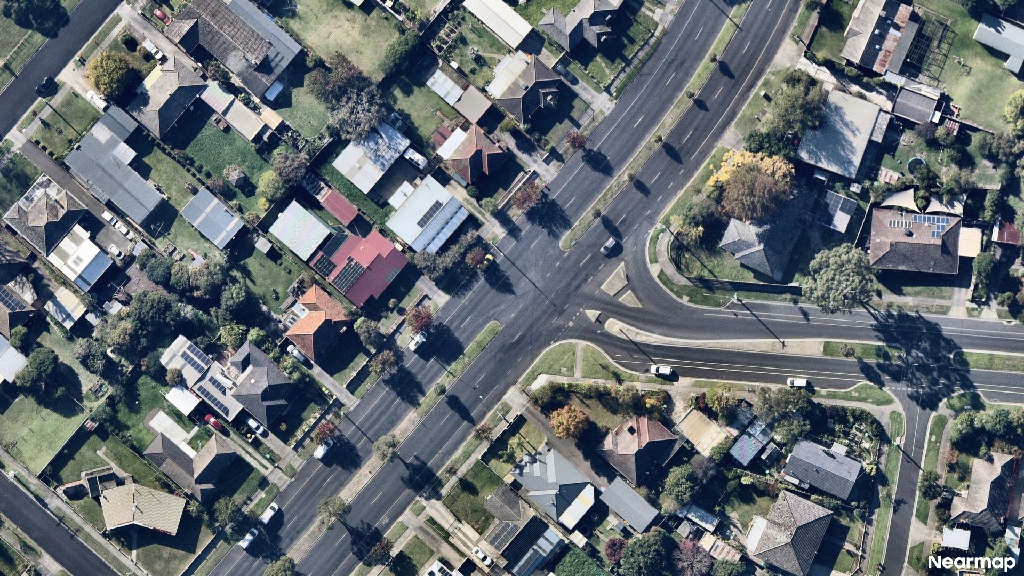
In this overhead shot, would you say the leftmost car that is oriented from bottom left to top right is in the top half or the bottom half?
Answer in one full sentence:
The leftmost car that is oriented from bottom left to top right is in the top half of the image.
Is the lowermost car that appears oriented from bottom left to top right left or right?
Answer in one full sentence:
The lowermost car that appears oriented from bottom left to top right appears in the left half of the scene.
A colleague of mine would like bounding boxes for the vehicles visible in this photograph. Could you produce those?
[203,412,224,431]
[97,208,117,229]
[152,7,173,27]
[599,235,618,258]
[786,377,809,387]
[64,486,87,497]
[285,343,307,363]
[408,331,427,353]
[238,527,258,550]
[471,546,491,566]
[86,90,108,111]
[36,75,56,98]
[314,439,333,460]
[141,37,163,59]
[244,416,266,436]
[112,219,127,239]
[650,364,673,375]
[259,502,278,525]
[557,64,578,85]
[106,241,126,262]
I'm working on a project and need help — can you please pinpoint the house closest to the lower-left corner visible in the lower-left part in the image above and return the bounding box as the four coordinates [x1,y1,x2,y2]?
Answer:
[100,484,186,535]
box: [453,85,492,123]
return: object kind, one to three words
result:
building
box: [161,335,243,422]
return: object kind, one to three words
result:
house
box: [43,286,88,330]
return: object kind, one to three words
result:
shed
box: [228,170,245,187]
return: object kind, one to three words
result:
gazebo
